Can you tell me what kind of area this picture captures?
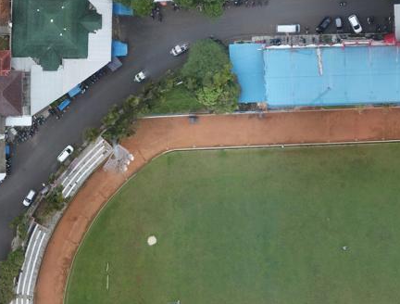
sports ground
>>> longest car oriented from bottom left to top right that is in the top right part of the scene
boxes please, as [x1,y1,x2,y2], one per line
[315,12,333,34]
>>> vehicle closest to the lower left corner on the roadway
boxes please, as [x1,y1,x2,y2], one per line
[20,186,36,207]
